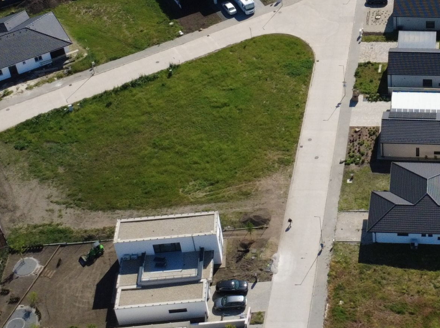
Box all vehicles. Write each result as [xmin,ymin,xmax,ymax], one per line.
[213,276,249,293]
[76,241,102,267]
[220,0,238,14]
[212,293,246,310]
[237,0,254,12]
